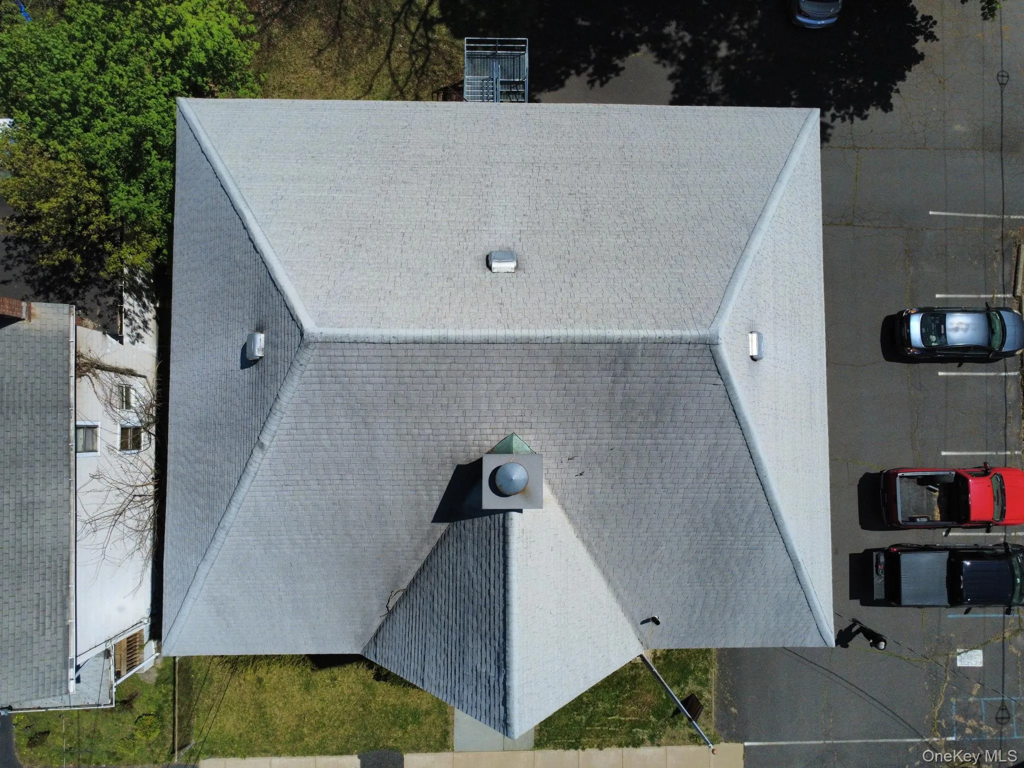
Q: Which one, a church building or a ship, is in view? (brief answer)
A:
church building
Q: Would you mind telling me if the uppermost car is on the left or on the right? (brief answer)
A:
right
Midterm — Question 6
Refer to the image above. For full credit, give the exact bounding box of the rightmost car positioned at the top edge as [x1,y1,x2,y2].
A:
[787,0,843,32]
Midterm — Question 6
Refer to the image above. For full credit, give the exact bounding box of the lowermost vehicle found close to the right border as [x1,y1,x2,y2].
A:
[873,543,1024,612]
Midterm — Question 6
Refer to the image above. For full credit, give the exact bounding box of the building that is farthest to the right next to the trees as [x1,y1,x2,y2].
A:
[162,97,836,742]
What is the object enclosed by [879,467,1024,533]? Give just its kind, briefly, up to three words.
truck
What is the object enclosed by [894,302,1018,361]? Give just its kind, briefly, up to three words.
car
